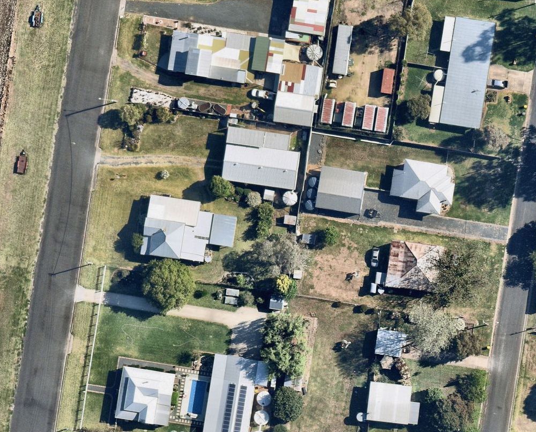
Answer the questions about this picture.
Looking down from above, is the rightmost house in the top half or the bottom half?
top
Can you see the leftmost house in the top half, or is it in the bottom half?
bottom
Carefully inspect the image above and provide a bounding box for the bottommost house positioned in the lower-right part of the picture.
[366,382,420,425]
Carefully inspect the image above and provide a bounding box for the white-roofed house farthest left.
[115,367,175,426]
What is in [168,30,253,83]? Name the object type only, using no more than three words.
house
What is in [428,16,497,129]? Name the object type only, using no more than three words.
house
